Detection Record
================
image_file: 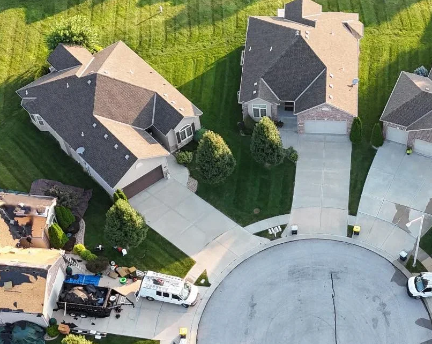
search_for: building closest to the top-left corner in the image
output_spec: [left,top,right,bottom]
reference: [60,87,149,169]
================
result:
[21,40,204,199]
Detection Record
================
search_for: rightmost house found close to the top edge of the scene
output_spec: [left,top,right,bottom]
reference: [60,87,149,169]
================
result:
[240,0,363,133]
